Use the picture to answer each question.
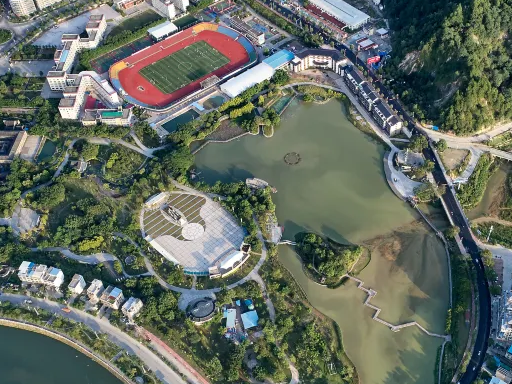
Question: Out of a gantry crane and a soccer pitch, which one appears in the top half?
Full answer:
Visible in the top half is a soccer pitch.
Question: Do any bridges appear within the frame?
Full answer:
Yes, a bridge is visible in the scene.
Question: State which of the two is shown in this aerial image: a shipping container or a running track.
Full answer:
It is a running track that can be seen here.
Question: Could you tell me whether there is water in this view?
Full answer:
Yes, the picture does contain water.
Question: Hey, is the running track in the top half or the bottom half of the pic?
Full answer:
It is in the top half that the running track appears.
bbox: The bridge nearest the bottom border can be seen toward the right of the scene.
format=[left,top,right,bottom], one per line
[347,274,451,341]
